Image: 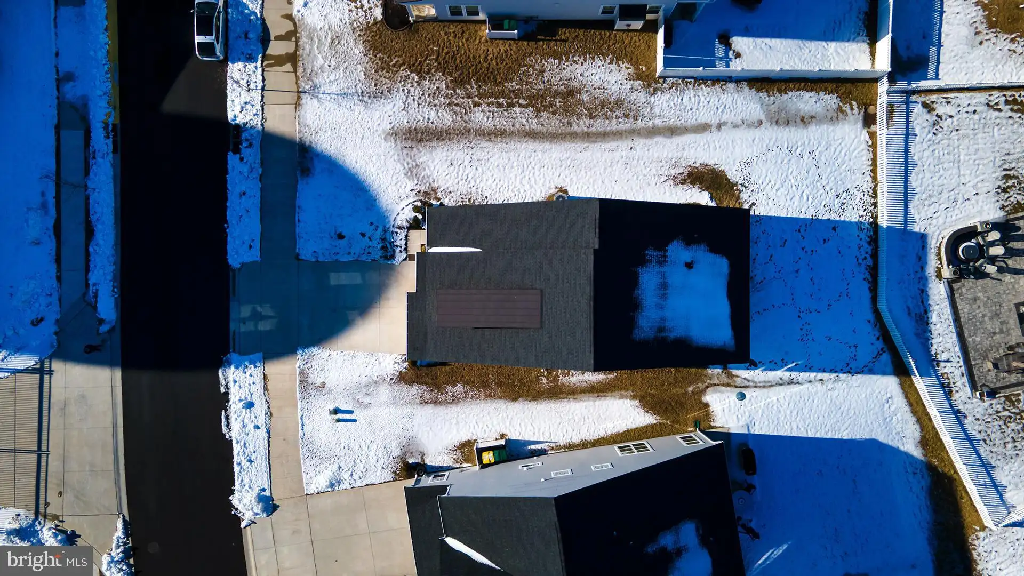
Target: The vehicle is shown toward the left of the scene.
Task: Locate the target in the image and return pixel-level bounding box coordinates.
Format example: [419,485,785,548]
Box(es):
[194,0,231,61]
